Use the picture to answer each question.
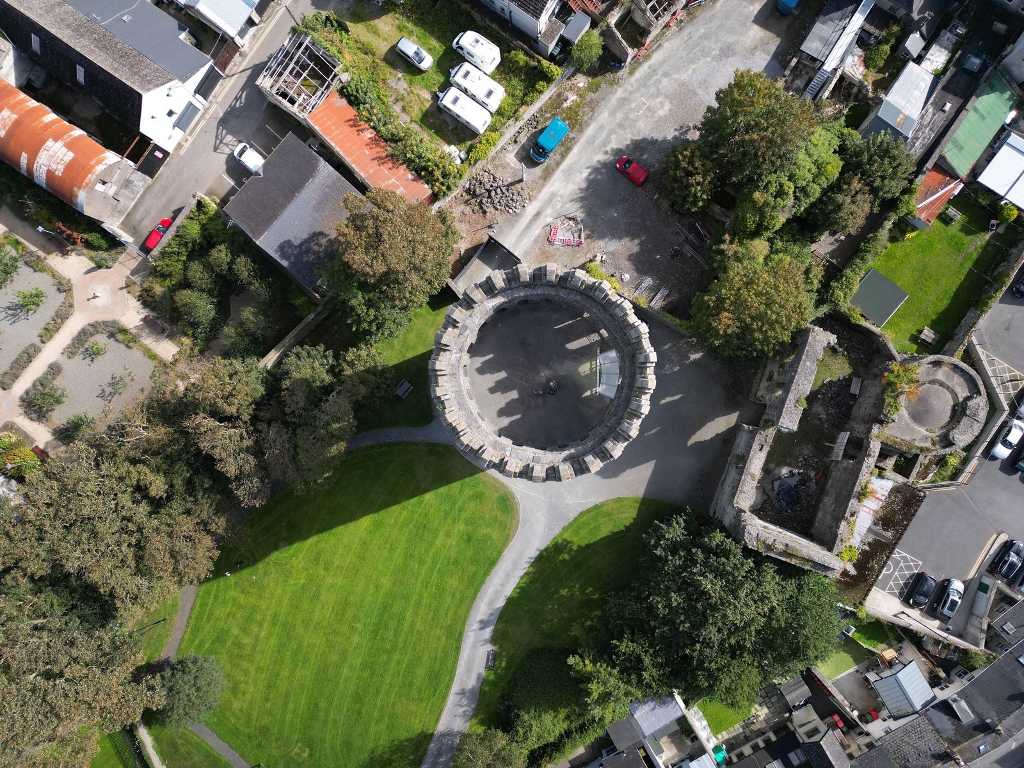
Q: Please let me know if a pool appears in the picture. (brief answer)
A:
No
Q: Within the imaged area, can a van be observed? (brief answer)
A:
Yes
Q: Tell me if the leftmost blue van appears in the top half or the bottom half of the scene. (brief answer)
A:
top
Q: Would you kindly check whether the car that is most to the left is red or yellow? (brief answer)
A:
red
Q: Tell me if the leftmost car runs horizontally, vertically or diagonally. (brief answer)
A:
diagonally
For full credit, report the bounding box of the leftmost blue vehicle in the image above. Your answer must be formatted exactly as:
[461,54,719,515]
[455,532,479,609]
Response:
[531,111,569,162]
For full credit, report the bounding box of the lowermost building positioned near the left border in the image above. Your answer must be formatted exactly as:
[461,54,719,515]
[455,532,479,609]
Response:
[0,80,152,221]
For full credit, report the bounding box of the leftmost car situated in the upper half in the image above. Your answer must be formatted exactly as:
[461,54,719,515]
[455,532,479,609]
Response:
[139,215,172,250]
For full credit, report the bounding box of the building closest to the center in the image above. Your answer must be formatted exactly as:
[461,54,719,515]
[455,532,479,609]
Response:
[433,260,654,482]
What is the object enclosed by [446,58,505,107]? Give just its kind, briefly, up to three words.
camper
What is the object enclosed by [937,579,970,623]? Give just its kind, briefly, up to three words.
car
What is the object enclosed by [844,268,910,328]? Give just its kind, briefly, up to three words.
shed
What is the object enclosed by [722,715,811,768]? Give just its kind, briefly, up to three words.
house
